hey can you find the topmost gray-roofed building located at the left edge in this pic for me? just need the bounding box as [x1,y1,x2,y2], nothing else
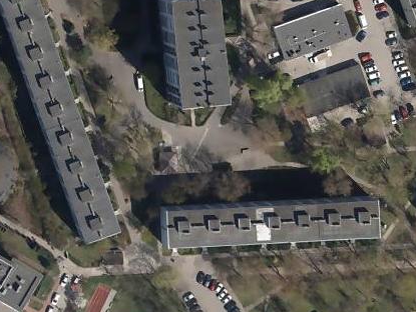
[0,0,121,243]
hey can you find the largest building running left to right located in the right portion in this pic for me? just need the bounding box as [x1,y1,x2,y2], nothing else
[162,199,381,255]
